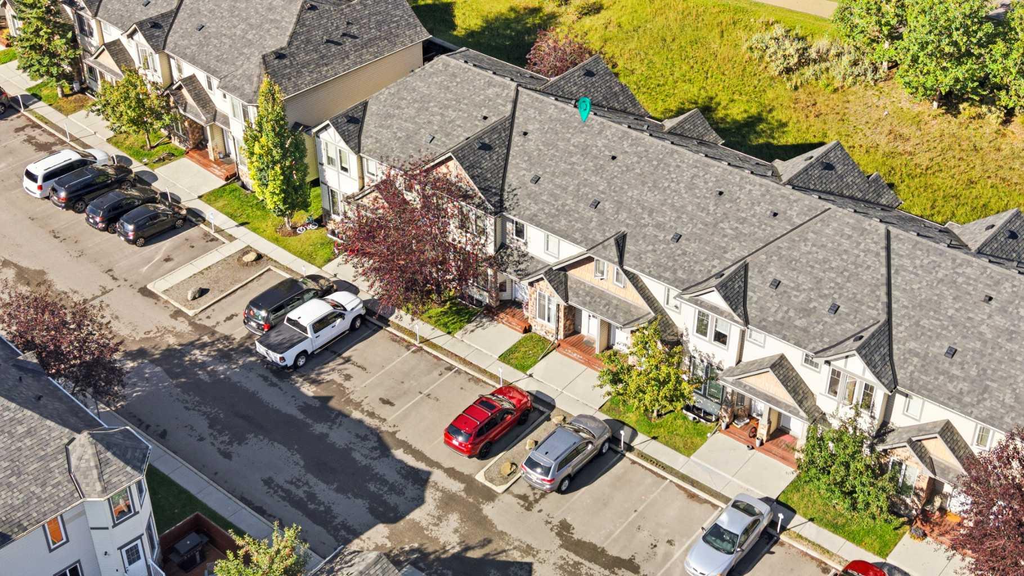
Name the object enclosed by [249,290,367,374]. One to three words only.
truck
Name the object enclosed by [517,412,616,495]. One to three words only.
car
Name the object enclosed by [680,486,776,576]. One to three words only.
car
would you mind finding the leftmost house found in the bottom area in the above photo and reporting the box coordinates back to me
[0,335,166,576]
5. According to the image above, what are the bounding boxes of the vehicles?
[41,158,138,214]
[0,91,10,116]
[517,412,616,495]
[249,290,367,374]
[240,268,341,334]
[440,383,535,459]
[79,180,166,231]
[680,486,776,576]
[20,143,118,196]
[103,196,190,246]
